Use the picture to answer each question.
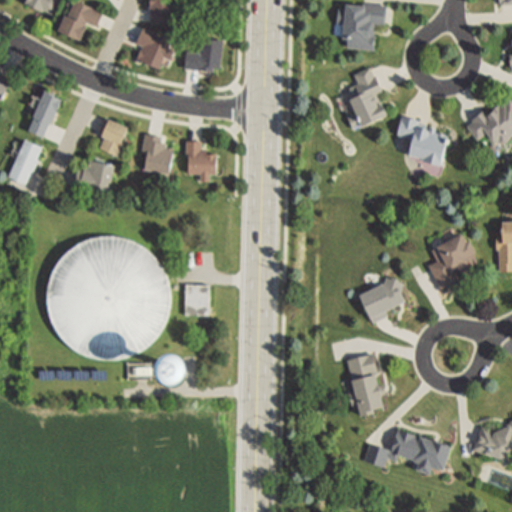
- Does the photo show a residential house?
Yes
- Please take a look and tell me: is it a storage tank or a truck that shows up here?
storage tank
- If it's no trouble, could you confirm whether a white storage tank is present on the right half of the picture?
No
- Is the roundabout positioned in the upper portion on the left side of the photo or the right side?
right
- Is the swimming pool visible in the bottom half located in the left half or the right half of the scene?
right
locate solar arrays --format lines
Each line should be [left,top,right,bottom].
[56,371,72,380]
[74,371,90,380]
[38,371,54,380]
[92,371,107,380]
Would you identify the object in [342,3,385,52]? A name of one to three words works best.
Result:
house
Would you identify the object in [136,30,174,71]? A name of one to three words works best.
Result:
house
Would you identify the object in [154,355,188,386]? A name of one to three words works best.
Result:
water tower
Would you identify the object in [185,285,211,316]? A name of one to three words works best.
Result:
building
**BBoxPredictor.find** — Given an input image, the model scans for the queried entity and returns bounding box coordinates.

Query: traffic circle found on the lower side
[414,312,512,396]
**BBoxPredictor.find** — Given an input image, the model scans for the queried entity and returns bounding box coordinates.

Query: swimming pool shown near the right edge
[478,462,512,491]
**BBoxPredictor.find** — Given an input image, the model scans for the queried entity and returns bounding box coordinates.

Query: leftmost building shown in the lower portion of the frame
[127,362,154,381]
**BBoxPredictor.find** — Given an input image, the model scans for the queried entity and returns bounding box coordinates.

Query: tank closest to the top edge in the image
[46,236,171,361]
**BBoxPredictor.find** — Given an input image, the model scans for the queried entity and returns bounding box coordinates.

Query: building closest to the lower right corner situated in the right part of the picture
[470,420,512,462]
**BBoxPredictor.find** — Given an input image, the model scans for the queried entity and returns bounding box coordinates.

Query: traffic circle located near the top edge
[406,0,482,96]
